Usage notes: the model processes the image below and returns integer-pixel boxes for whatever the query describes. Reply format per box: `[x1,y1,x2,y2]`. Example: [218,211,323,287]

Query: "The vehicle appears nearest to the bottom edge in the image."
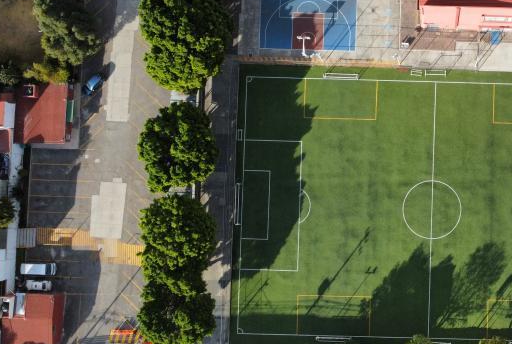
[25,280,53,292]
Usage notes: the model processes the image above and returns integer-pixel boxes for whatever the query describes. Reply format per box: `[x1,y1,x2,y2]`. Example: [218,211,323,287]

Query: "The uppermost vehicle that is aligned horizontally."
[16,263,57,278]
